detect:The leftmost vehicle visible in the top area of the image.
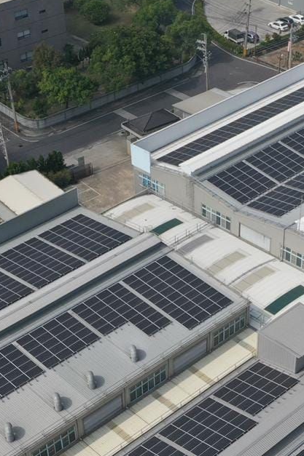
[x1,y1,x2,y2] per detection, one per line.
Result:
[221,25,249,42]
